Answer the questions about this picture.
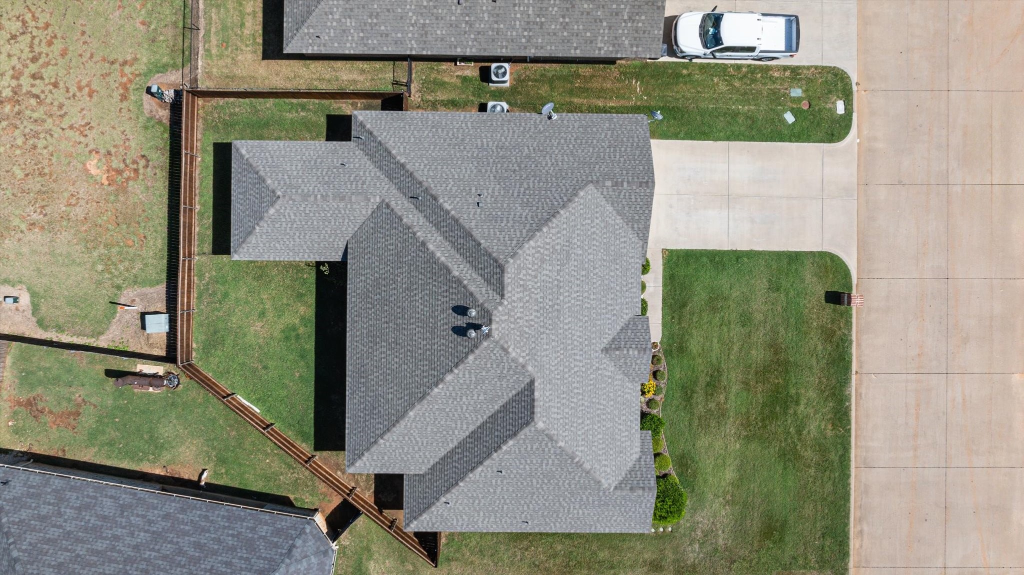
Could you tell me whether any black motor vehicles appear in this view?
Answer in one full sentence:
No, no black motor vehicle is visible in the view.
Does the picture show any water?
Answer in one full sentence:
No, no water is visible.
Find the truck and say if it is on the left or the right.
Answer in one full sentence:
The truck sits on the right side.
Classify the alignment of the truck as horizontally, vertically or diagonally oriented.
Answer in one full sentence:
What the image shows is the truck lying horizontally.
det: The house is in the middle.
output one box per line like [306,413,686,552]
[230,111,657,533]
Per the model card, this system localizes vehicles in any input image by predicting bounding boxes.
[671,6,803,63]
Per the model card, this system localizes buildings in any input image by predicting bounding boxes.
[0,459,343,575]
[230,111,657,533]
[283,0,667,59]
